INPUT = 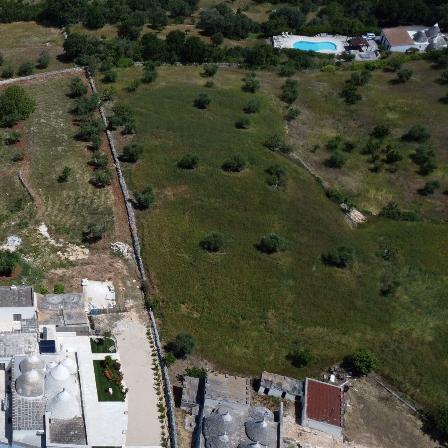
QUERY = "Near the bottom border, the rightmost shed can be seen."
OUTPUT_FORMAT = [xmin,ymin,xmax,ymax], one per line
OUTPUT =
[301,380,342,441]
